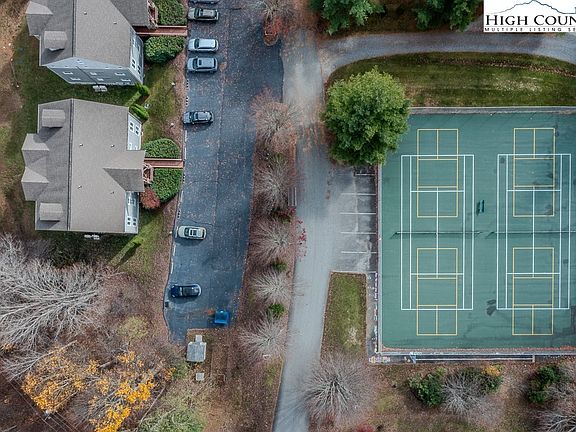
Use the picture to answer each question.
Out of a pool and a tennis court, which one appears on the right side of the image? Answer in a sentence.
The feature located on the right side of the image is a tennis court.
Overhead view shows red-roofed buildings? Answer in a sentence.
No, I can't see a single red-roofed building in this photo.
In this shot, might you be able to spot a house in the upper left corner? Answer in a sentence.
Yes, looking in the upper left corner, one can make out a house.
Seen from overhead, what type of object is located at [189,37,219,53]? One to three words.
car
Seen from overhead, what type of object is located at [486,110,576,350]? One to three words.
tennis court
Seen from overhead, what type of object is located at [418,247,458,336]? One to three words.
sports court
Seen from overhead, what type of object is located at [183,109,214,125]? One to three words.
car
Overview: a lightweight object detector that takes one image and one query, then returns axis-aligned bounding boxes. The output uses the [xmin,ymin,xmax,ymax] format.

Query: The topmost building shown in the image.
[27,0,161,82]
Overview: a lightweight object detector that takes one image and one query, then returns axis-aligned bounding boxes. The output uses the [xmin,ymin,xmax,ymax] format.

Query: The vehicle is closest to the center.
[177,226,207,240]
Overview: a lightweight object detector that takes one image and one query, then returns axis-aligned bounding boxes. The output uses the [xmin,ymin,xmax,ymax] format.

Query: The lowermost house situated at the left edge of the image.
[23,98,156,232]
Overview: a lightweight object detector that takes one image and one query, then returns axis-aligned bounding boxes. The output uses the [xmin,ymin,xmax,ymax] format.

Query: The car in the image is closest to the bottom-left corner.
[170,284,202,298]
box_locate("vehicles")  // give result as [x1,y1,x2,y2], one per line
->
[188,6,219,23]
[188,56,218,73]
[189,37,219,53]
[177,226,207,240]
[170,284,202,298]
[183,109,214,125]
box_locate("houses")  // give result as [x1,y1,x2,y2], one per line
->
[27,0,161,82]
[23,98,156,232]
